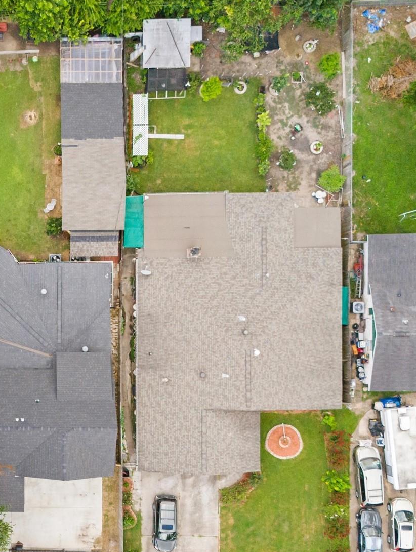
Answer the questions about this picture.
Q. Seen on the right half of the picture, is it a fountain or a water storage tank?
fountain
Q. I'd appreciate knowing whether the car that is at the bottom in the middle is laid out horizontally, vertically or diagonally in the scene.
vertically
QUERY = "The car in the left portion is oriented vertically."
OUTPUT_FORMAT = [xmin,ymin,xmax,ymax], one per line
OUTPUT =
[151,493,179,551]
